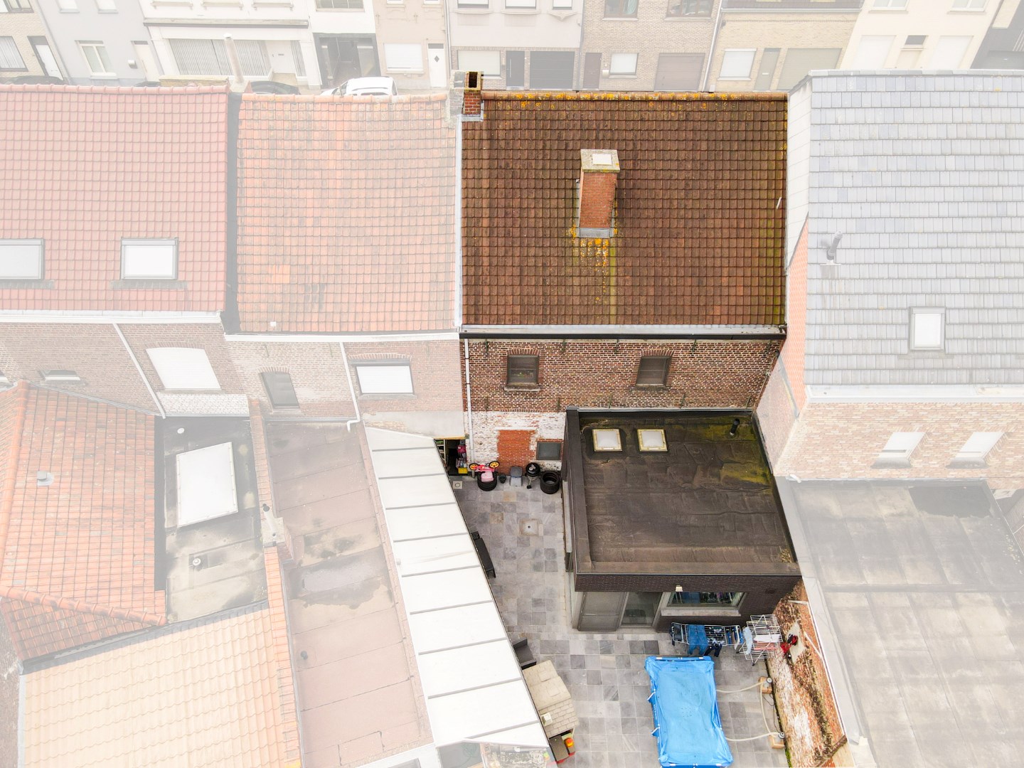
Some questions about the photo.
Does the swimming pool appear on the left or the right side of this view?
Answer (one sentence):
The swimming pool is on the right side of the image.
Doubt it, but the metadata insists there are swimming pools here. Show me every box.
[637,655,735,768]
